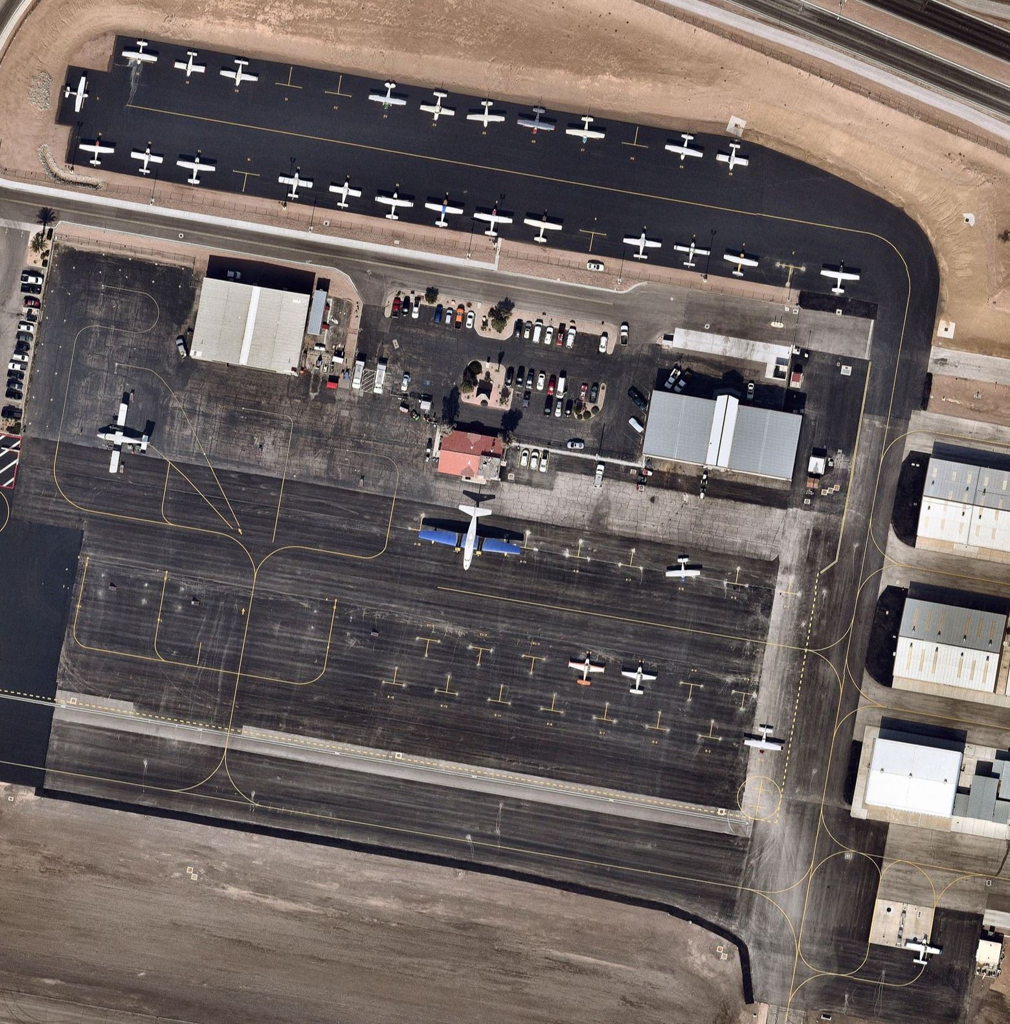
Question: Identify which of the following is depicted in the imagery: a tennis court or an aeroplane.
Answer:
aeroplane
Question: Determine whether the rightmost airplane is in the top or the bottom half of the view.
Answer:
bottom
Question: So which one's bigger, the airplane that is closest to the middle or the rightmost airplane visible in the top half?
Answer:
the airplane that is closest to the middle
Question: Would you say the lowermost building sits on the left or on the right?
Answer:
right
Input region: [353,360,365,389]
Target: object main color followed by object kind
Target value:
white vehicle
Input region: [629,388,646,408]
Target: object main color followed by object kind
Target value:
black vehicle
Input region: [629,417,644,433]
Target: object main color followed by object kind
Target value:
white car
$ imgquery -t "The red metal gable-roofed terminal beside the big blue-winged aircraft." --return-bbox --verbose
[435,429,505,487]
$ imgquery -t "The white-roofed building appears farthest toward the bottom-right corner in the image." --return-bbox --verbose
[975,935,1002,979]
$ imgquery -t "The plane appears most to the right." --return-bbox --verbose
[906,939,942,965]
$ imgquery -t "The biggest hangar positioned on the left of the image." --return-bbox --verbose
[189,276,313,377]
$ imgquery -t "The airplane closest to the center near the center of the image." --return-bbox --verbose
[419,500,520,574]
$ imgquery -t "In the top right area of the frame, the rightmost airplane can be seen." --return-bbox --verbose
[821,265,860,293]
